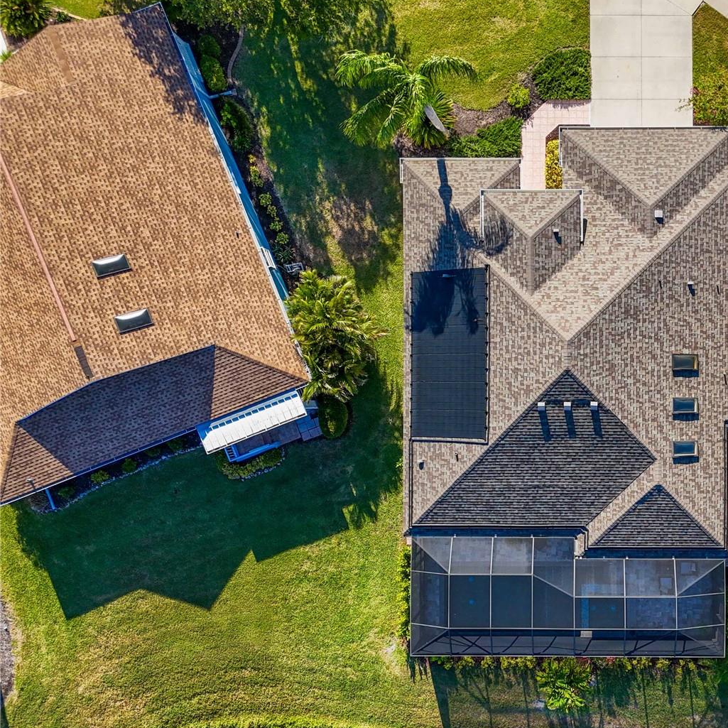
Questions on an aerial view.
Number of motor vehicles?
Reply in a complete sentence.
There are no motor vehicles in the image.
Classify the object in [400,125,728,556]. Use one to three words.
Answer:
house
